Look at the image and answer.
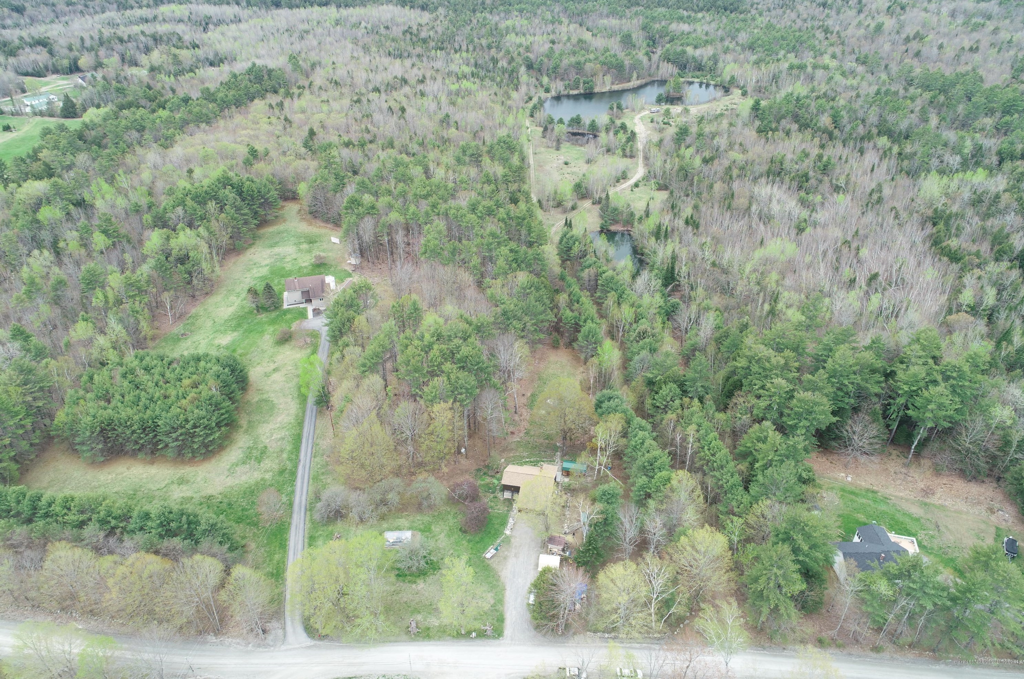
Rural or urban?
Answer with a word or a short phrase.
rural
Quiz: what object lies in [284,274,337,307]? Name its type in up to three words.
house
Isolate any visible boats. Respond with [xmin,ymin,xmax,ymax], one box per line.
[1006,536,1018,557]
